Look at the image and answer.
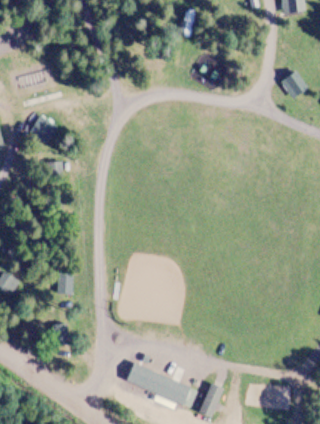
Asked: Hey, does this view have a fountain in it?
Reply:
No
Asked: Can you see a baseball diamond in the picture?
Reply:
Yes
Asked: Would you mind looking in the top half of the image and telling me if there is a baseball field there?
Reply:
No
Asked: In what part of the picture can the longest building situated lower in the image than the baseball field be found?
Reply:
bottom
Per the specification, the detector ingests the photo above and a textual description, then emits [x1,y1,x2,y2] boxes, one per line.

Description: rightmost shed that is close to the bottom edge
[200,386,222,418]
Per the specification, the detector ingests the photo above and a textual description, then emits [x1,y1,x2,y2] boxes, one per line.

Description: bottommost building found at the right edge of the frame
[282,70,308,99]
